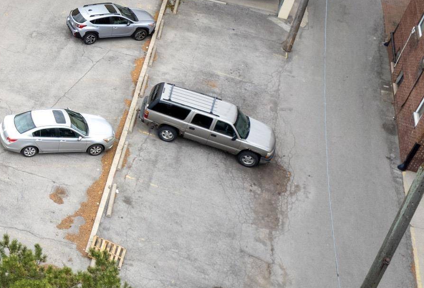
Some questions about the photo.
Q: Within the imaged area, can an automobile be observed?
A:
Yes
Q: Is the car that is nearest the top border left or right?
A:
left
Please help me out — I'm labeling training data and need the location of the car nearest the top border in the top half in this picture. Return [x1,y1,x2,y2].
[66,1,155,44]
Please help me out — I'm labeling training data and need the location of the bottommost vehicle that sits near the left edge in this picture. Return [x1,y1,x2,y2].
[1,108,118,157]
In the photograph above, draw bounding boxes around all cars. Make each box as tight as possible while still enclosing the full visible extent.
[147,81,285,169]
[66,1,155,44]
[1,108,118,157]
